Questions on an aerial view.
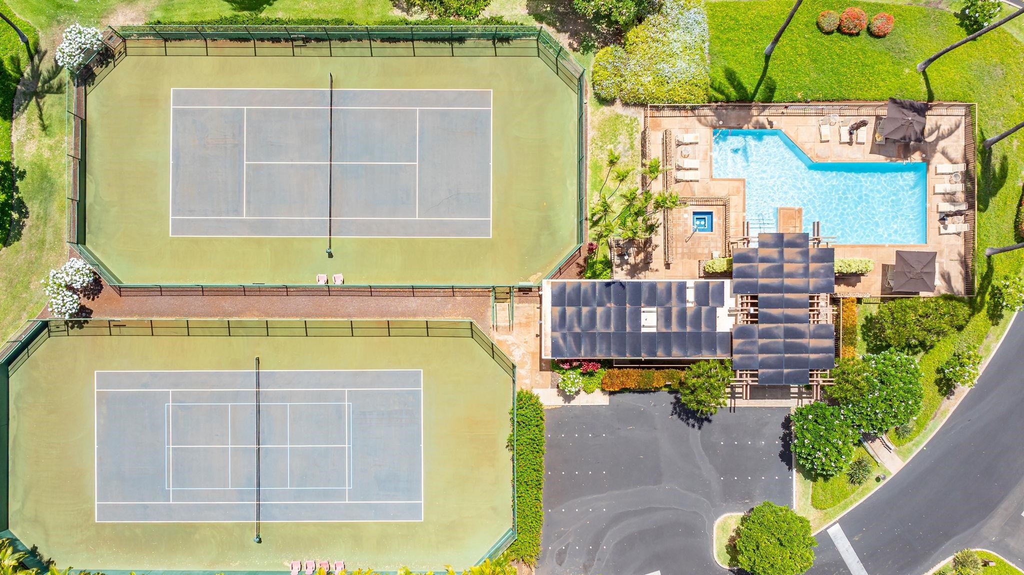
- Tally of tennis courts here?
2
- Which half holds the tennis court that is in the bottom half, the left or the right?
left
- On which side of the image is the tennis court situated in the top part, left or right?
left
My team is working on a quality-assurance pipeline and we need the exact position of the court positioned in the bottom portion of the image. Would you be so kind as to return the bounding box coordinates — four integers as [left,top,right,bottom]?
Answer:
[8,321,512,570]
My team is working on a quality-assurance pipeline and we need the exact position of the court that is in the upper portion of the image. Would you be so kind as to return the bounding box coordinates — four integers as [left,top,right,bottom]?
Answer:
[85,39,578,284]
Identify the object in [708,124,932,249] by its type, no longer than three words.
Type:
swimming pool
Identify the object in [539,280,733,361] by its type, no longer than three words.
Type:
building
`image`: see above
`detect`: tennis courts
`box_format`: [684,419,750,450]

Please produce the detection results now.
[85,39,578,284]
[8,321,512,570]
